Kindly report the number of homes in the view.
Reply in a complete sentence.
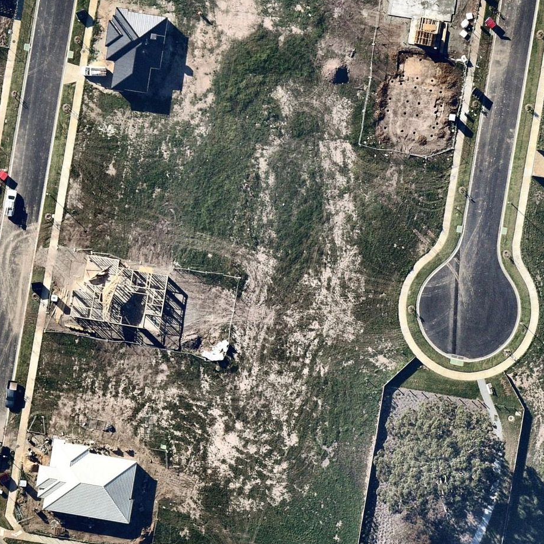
The picture shows 3 homes.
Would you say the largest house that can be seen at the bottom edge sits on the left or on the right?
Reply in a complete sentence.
It is on the left.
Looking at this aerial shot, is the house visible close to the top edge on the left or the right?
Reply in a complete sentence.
The house visible close to the top edge sits on the left side.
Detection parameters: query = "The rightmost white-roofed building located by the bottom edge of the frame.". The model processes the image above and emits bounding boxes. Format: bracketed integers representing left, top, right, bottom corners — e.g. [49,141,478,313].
[36,437,137,524]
